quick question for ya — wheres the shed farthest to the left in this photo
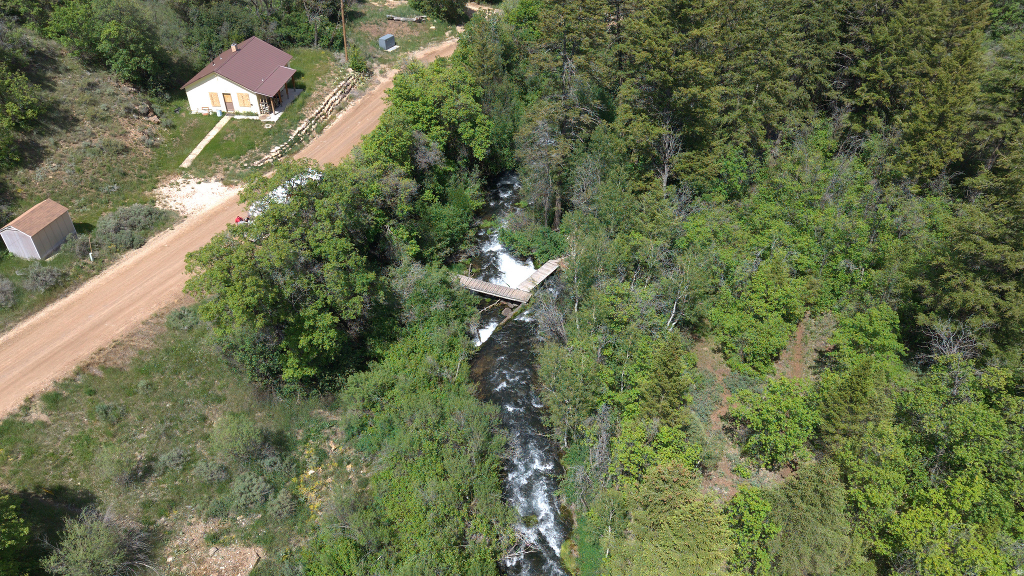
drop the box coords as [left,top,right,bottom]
[0,198,75,262]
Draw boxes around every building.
[0,198,75,262]
[180,37,304,123]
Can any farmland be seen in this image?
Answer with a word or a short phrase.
No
